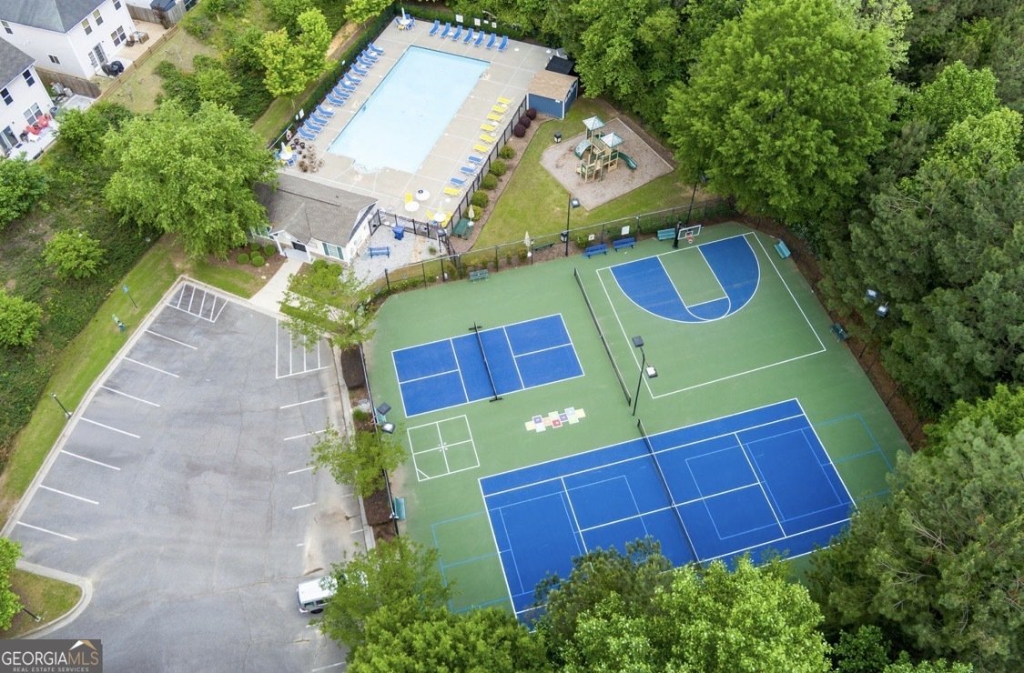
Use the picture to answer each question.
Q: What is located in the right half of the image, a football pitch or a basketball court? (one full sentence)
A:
It is a basketball court that can be seen in the right half of the image.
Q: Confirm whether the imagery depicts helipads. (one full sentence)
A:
No, I find no helipad anywhere in the image.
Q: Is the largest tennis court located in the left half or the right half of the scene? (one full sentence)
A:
It is on the right.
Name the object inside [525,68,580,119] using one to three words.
shed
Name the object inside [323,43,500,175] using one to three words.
swimming pool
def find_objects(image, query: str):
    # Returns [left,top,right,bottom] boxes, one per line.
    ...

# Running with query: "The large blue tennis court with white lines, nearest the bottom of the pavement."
[478,398,870,631]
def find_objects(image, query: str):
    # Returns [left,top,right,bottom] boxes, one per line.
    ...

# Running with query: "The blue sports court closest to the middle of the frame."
[392,314,584,417]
